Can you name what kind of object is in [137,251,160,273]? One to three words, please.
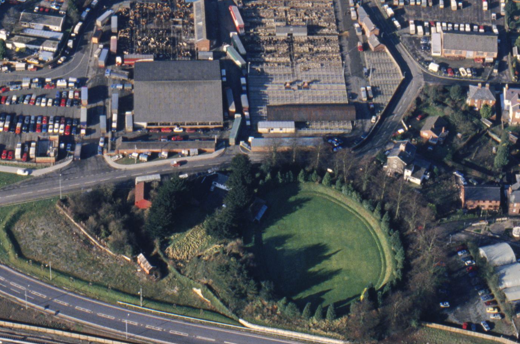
shed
